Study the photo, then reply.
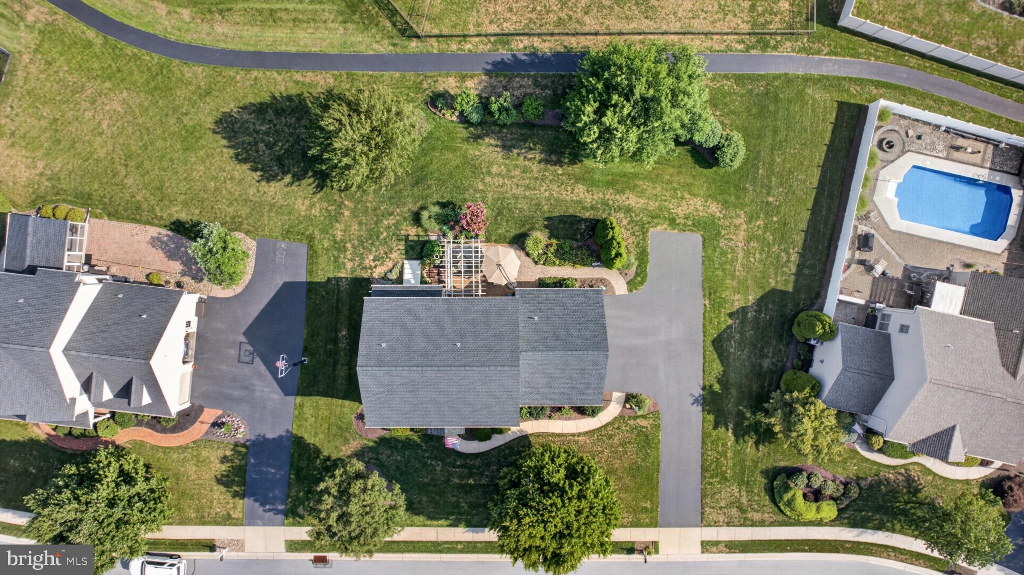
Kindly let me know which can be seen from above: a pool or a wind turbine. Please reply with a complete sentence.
It is a pool that can be seen here.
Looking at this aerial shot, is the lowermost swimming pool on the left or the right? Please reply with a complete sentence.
The lowermost swimming pool sits on the right side.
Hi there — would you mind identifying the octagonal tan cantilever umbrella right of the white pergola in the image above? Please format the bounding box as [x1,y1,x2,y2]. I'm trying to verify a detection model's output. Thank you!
[480,245,521,290]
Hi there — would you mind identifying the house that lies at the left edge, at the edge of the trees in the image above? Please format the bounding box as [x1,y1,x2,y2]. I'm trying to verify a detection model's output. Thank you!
[0,213,201,430]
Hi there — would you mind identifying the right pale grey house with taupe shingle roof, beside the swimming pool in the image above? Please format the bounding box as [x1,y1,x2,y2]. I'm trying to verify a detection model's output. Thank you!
[813,270,1024,466]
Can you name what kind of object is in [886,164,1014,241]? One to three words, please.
swimming pool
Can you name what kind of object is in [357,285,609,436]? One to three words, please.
house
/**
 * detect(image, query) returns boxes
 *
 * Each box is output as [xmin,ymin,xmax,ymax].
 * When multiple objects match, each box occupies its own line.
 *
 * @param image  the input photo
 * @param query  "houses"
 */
[0,213,201,430]
[813,270,1024,466]
[357,285,609,436]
